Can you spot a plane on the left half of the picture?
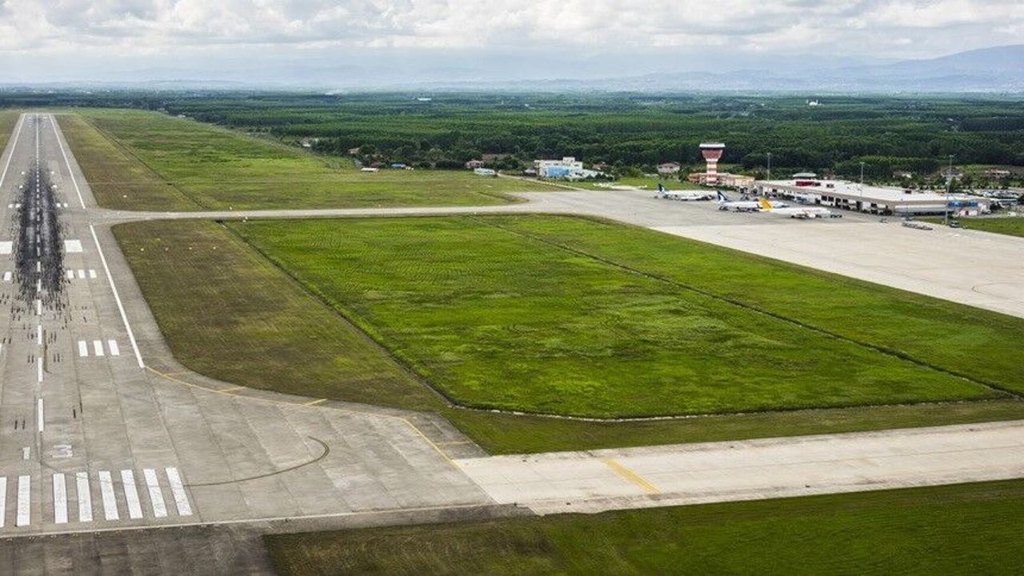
No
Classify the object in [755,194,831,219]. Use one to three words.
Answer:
airplane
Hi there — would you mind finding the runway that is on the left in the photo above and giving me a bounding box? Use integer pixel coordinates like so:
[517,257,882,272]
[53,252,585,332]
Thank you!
[0,114,502,540]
